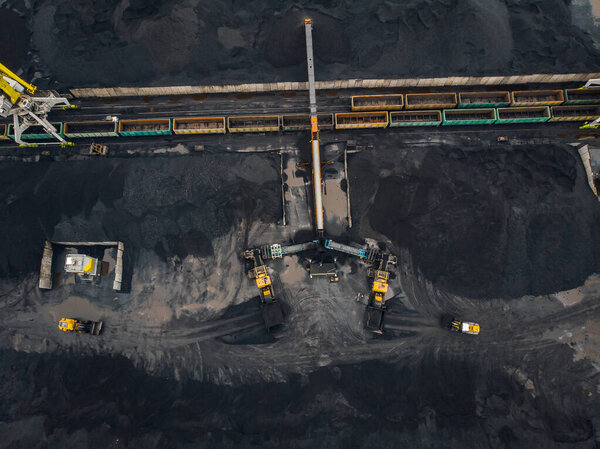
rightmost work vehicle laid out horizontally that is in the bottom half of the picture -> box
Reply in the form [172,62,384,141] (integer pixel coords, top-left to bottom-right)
[442,315,481,335]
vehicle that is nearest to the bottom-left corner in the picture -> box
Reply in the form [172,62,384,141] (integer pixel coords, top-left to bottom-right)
[56,318,105,335]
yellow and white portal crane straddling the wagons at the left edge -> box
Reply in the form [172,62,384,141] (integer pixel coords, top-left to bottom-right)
[0,60,80,145]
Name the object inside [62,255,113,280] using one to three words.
work vehicle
